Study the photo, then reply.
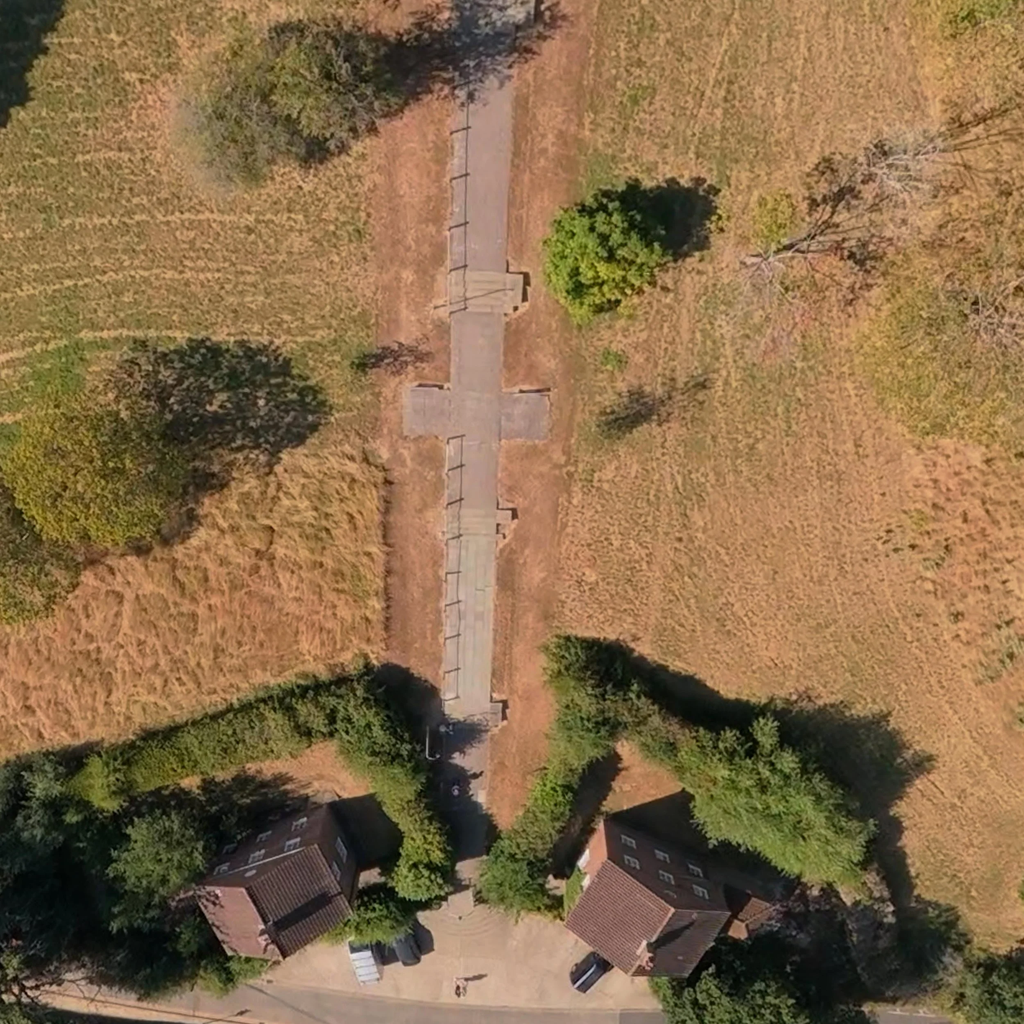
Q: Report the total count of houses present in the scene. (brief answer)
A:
two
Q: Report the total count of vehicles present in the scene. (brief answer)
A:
3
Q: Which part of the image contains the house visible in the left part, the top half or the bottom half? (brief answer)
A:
bottom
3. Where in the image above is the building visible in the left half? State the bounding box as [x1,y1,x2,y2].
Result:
[197,807,357,966]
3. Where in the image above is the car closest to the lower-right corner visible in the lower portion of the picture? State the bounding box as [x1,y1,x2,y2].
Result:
[573,956,620,991]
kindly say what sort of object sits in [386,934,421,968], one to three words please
car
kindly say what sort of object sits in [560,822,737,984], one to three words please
house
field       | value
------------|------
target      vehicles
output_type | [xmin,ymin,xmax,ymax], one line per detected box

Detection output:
[347,941,383,983]
[573,956,620,991]
[386,934,421,968]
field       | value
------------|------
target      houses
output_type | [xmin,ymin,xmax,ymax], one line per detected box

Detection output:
[560,822,737,984]
[197,807,357,966]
